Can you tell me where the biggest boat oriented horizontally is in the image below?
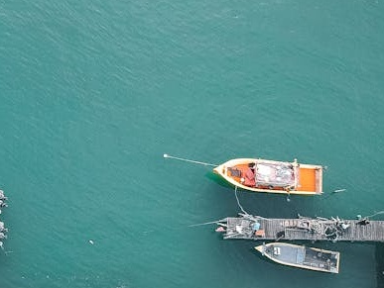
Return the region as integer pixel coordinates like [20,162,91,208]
[210,159,324,201]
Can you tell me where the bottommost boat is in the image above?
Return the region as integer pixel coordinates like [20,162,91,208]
[250,242,340,273]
